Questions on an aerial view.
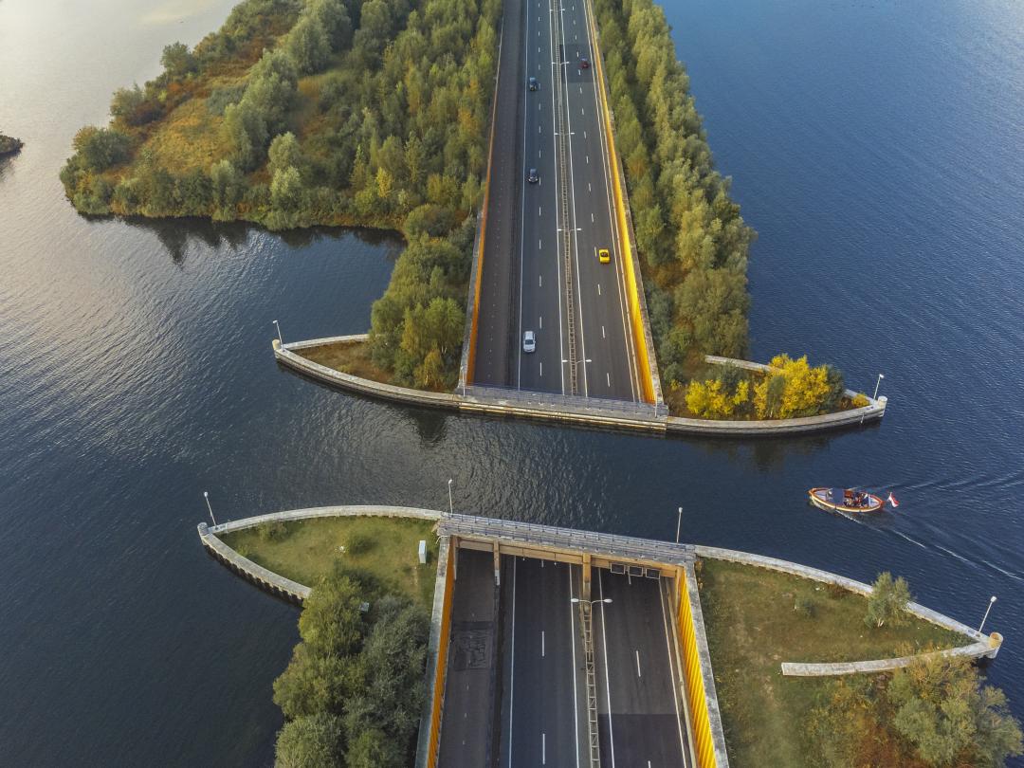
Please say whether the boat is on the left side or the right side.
right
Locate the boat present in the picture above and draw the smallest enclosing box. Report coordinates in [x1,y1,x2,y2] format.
[809,485,900,508]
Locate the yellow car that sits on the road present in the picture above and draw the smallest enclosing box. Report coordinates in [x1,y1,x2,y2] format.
[598,248,610,262]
